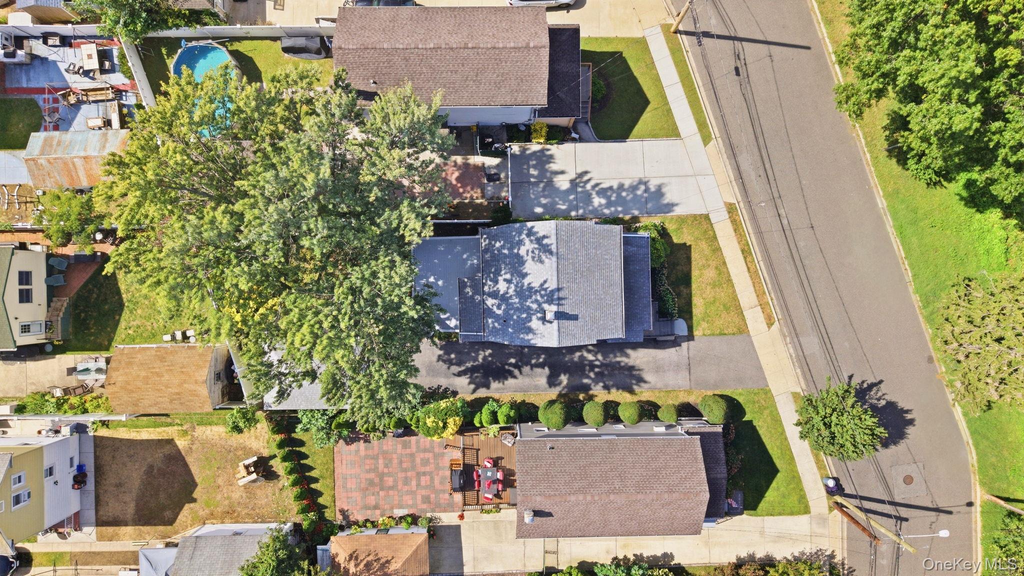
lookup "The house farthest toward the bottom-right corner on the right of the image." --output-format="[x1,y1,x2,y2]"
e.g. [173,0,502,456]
[516,421,743,536]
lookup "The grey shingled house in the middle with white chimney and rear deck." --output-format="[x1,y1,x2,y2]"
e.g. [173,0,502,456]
[412,222,688,344]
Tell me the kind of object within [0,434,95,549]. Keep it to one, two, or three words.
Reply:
house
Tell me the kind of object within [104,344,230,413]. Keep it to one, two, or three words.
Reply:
building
